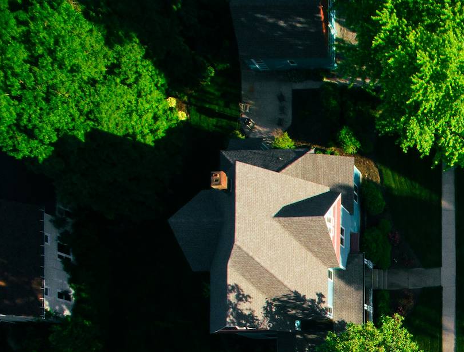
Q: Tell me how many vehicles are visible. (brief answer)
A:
0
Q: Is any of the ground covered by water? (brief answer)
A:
No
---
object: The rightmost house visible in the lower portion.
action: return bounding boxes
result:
[169,139,385,352]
